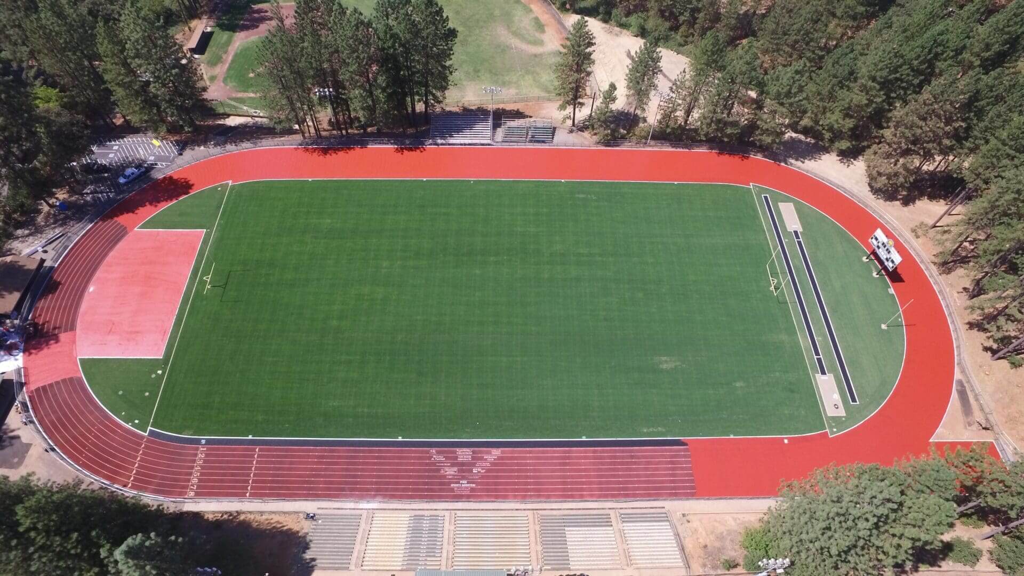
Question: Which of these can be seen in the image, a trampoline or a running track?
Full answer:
Looking from above, you can make out a running track.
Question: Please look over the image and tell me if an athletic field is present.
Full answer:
Yes, there's an athletic field here.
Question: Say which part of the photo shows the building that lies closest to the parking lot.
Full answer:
Look in the left portion of the view to spot the building that lies closest to the parking lot.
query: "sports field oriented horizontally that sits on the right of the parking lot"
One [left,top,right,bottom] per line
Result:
[150,179,828,439]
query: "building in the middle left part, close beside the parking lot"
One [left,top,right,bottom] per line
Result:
[0,255,47,325]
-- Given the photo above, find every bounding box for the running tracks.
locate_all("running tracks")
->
[23,146,1011,500]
